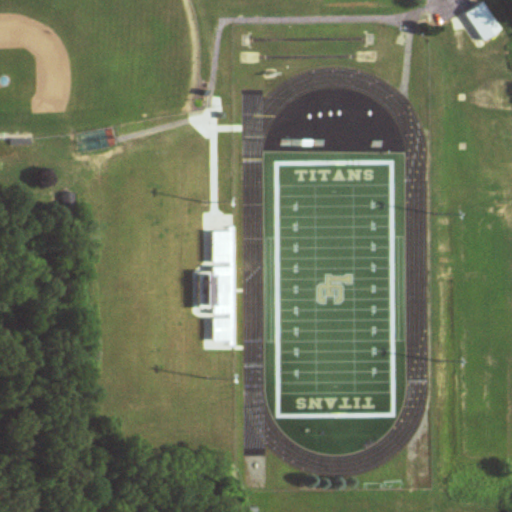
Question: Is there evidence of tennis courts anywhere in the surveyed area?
No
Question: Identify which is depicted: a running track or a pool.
running track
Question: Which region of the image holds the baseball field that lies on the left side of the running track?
top left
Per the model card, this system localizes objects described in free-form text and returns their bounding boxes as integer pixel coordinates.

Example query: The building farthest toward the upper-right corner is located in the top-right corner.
[464,2,502,40]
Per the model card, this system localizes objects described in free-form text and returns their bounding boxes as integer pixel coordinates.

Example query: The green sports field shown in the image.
[266,152,405,453]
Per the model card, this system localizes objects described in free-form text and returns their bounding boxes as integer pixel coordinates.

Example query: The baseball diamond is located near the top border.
[0,13,71,113]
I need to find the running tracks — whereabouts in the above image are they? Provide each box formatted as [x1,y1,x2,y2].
[244,68,427,474]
